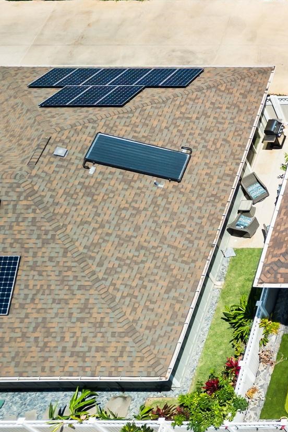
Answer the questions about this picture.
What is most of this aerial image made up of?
buildings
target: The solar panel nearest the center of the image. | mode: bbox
[87,128,189,179]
